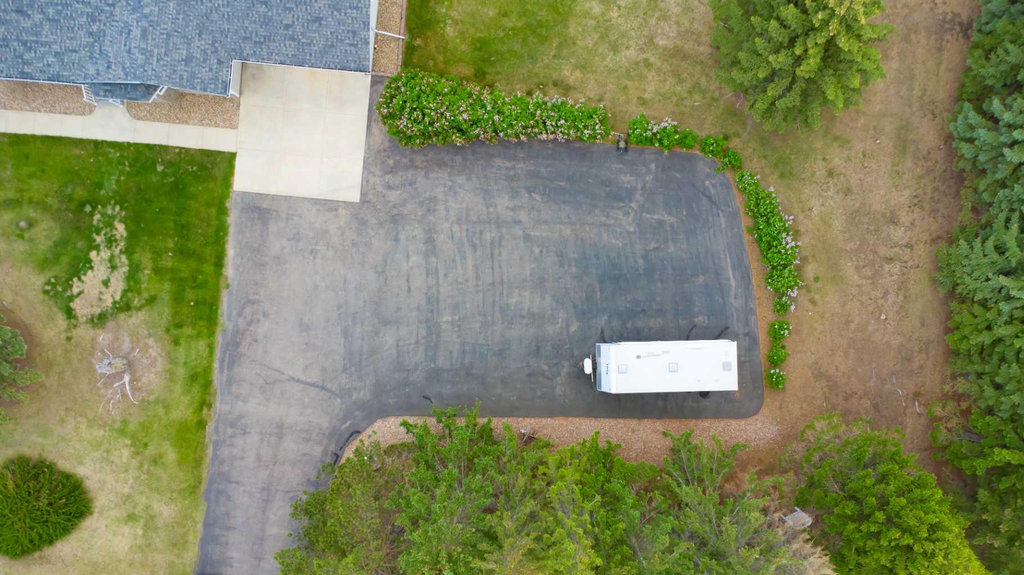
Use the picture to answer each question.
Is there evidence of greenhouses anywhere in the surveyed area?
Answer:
No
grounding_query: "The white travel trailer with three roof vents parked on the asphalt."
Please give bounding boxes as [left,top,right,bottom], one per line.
[574,337,738,394]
